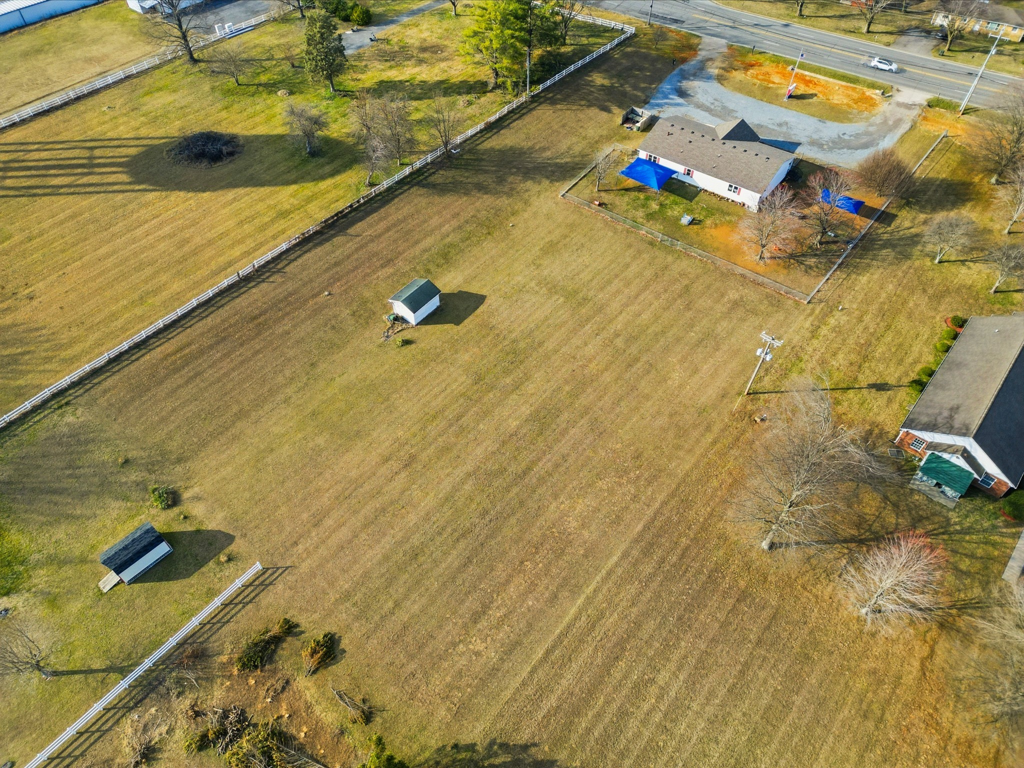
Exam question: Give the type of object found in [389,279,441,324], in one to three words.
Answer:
shed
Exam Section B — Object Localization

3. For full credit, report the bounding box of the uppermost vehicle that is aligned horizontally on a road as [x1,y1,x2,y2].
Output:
[872,56,900,71]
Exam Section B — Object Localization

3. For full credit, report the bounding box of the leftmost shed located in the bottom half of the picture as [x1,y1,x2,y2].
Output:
[96,519,171,594]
